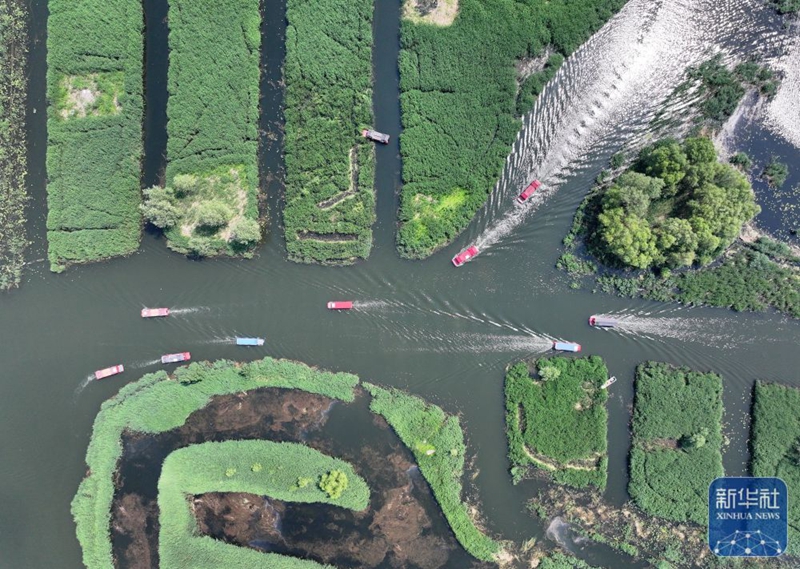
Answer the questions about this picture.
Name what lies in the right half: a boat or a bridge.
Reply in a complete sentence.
The feature located in the right half is a boat.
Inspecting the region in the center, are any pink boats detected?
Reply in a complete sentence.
Yes, you'll find a pink boat in the center.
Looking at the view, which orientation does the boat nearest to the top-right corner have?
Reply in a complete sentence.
The boat nearest to the top-right corner is laid out diagonally.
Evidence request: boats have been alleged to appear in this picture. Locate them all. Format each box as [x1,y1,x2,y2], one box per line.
[452,245,479,266]
[161,351,191,363]
[236,337,264,345]
[552,340,581,352]
[517,177,544,204]
[142,308,170,317]
[602,376,616,388]
[588,317,618,327]
[95,363,125,379]
[362,128,391,143]
[327,301,355,310]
